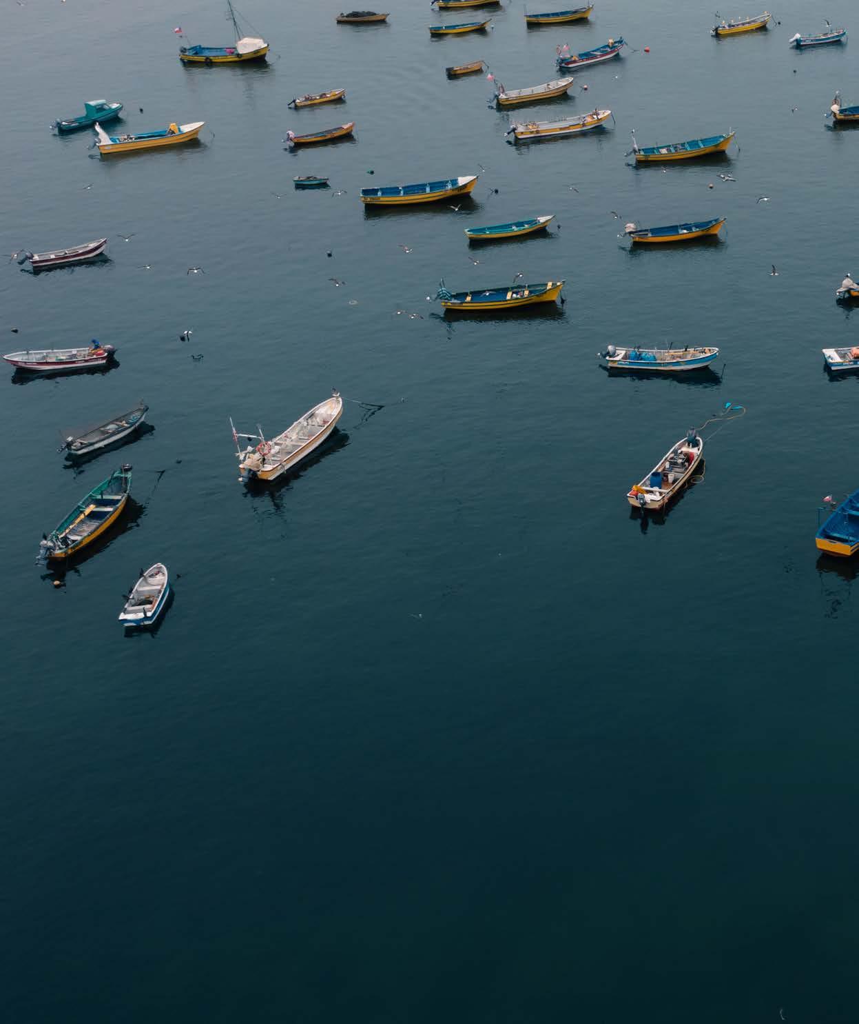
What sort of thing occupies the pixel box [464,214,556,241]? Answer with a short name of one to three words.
boat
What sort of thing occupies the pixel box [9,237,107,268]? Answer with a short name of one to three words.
boat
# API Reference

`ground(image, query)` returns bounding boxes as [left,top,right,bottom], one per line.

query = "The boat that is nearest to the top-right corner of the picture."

[791,28,847,48]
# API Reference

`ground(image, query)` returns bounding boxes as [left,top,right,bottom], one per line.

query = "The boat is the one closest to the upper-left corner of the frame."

[52,99,123,132]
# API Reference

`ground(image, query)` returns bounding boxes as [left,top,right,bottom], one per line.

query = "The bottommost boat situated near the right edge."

[815,489,859,558]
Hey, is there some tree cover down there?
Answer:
No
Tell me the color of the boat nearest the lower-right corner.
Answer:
blue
